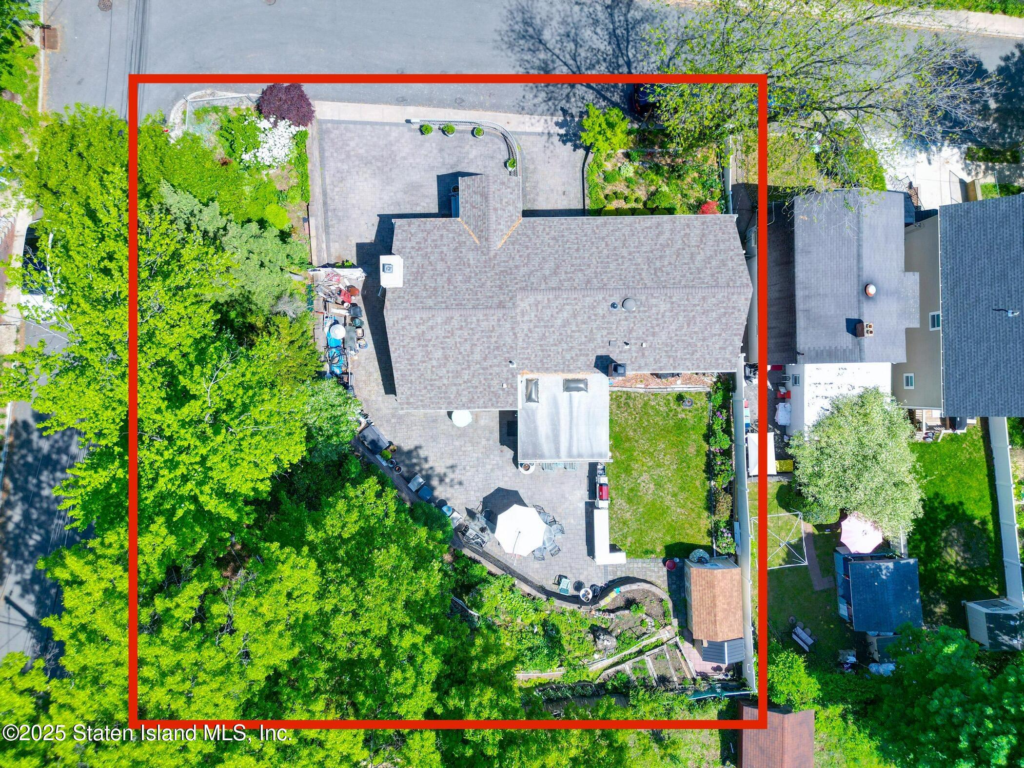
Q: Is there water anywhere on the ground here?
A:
No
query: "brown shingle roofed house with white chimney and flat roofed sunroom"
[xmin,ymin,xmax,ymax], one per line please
[372,173,752,465]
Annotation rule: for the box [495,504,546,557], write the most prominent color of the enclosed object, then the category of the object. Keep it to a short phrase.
white umbrella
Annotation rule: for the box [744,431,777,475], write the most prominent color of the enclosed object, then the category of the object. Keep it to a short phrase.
white tent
